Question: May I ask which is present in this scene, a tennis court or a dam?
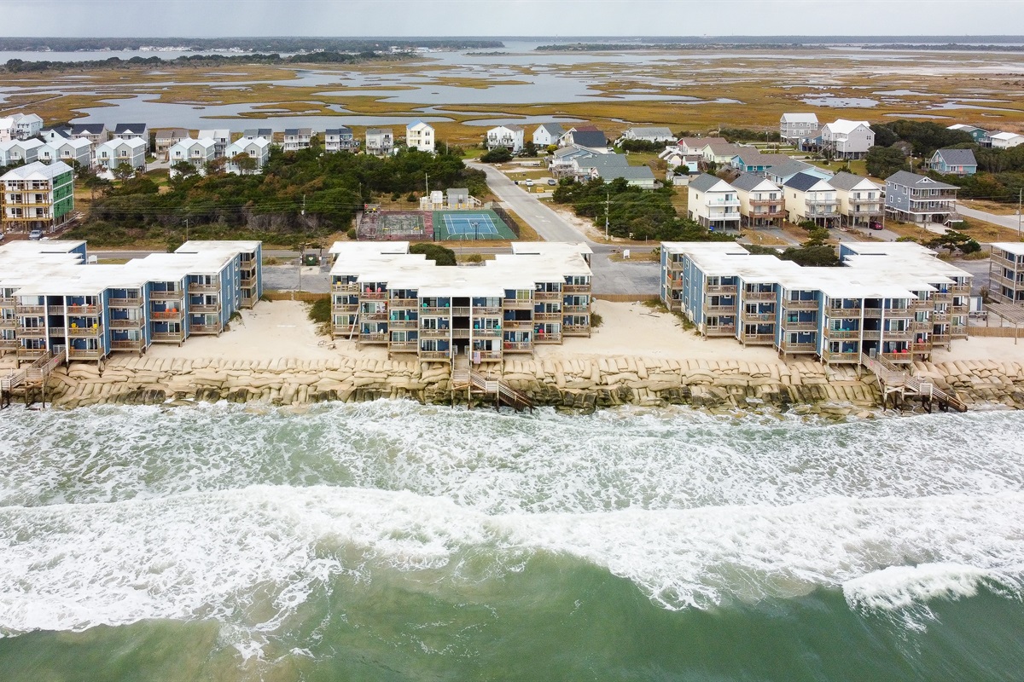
tennis court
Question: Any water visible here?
Yes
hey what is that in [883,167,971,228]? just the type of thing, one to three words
house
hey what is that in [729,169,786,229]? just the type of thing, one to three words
house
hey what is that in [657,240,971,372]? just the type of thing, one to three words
building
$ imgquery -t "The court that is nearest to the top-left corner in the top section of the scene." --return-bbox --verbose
[358,210,433,240]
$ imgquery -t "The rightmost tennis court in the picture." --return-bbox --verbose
[434,209,519,240]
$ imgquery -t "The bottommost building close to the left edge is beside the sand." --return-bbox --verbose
[0,239,267,371]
